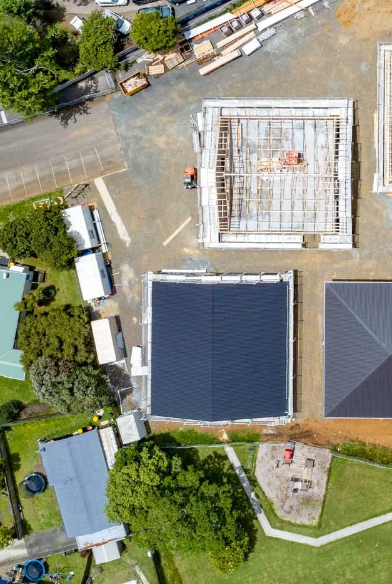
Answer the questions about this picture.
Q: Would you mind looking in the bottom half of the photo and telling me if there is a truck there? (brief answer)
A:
No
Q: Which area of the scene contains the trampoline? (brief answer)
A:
bottom left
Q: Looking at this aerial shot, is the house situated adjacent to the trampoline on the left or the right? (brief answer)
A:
left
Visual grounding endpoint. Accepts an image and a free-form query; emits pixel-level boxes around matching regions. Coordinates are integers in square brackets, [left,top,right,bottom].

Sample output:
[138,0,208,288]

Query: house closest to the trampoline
[38,427,121,551]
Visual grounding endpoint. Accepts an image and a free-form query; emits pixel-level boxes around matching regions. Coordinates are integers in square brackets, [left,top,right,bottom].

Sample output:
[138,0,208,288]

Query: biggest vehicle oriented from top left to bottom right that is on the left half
[103,6,134,38]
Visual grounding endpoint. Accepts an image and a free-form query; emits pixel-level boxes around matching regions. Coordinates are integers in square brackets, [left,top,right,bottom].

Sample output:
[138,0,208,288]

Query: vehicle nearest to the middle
[183,168,198,184]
